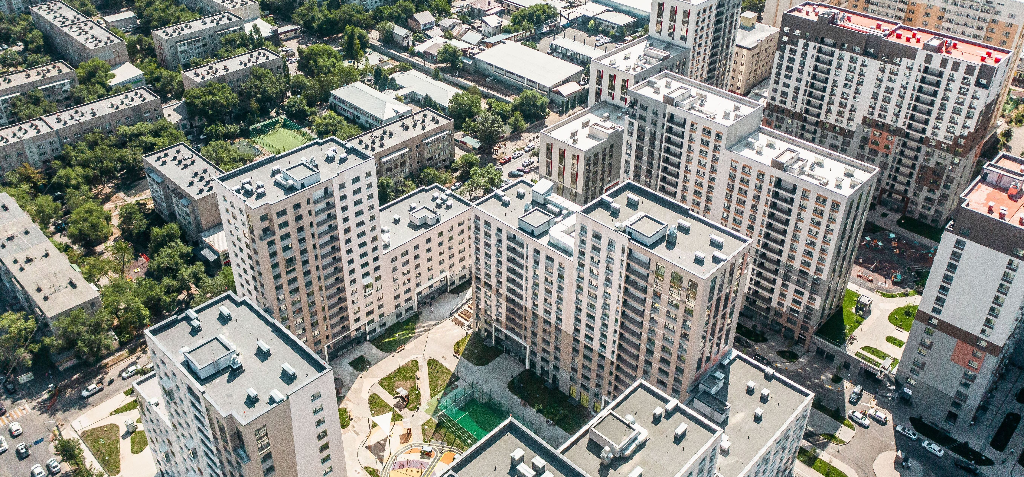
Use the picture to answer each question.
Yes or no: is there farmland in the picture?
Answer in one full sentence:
No, the scene doesn't show any farmland.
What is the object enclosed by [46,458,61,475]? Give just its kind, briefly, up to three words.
car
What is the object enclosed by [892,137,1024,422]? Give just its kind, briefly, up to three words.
building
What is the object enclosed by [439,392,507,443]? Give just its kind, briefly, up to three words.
sports court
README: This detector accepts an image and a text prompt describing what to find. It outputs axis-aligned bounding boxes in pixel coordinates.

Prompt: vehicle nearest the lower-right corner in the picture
[955,458,981,474]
